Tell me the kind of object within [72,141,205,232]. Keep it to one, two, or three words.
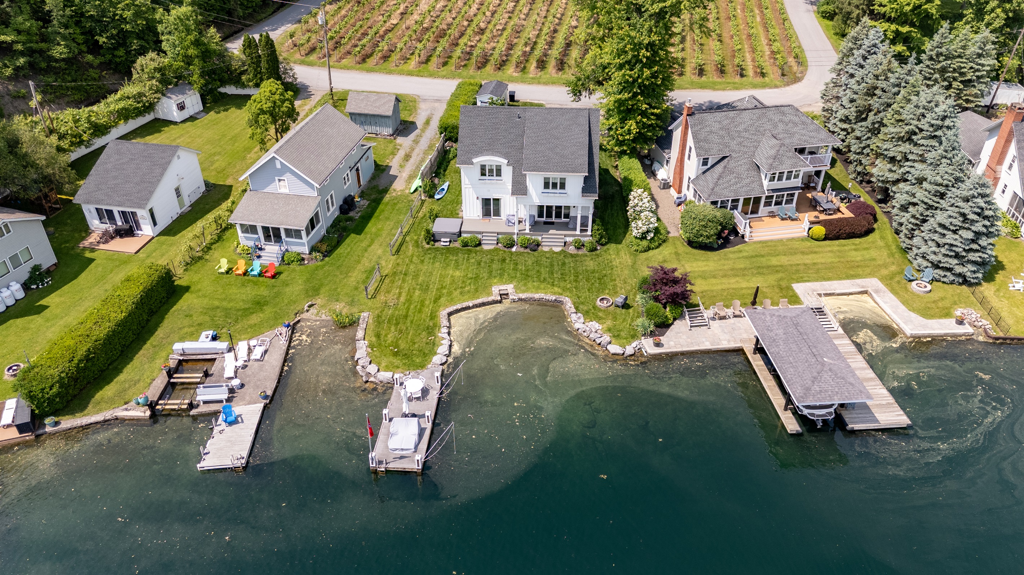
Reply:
house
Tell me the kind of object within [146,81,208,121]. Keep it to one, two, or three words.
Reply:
shed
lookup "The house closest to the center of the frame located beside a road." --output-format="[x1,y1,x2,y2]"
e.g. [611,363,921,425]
[456,105,600,247]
